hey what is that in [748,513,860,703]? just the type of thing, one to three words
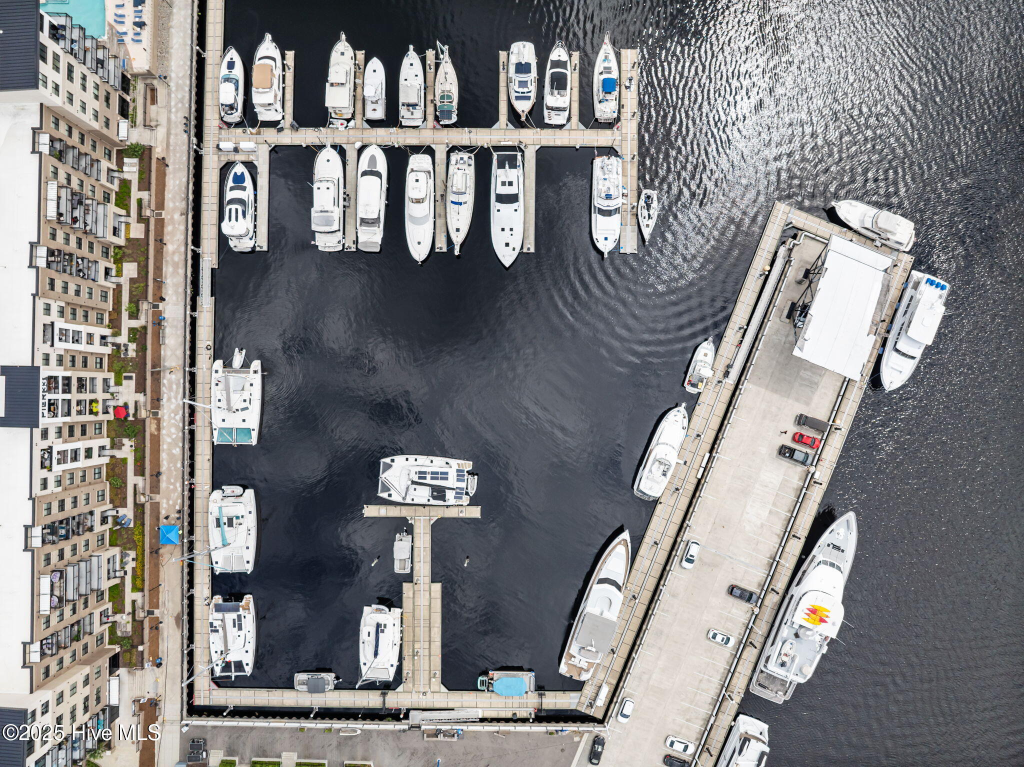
vessel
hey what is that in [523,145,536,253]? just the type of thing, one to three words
pier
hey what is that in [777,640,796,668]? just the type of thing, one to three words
boat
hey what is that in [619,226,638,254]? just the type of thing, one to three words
pier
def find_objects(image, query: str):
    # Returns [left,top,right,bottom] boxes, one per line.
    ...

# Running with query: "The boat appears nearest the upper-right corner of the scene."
[833,197,916,251]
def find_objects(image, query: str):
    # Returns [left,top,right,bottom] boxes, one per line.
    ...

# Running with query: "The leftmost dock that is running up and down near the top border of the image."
[200,0,226,269]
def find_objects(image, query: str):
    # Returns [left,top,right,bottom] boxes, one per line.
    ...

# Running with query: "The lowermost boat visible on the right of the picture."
[716,712,770,767]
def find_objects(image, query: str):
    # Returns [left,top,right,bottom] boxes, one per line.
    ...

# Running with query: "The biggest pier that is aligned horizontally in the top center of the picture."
[219,119,621,154]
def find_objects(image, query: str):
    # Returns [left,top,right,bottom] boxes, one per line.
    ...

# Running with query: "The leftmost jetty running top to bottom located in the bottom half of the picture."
[194,296,216,705]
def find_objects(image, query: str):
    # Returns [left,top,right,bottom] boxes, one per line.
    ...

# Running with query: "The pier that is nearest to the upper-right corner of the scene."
[789,211,914,266]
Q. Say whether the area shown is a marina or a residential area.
marina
